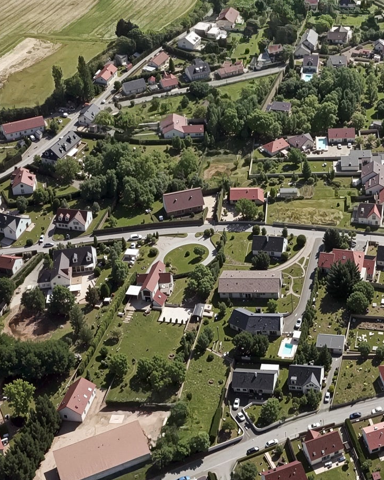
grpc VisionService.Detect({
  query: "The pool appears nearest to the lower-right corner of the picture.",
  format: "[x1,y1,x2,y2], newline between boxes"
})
[278,337,298,358]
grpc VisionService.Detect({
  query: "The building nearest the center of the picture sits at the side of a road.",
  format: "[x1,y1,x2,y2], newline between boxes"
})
[164,186,204,218]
